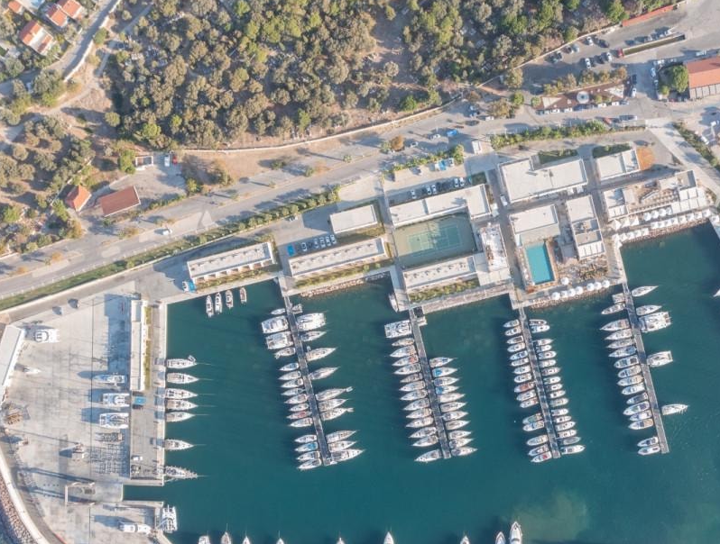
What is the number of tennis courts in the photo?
1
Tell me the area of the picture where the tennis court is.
center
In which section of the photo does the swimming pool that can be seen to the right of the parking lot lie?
right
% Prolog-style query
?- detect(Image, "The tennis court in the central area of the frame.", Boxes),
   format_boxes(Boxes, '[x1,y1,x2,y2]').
[392,209,479,269]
